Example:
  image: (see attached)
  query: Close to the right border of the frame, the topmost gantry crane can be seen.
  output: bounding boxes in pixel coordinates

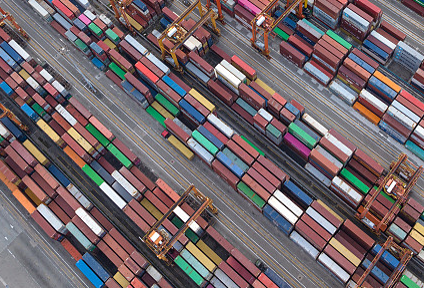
[350,152,424,244]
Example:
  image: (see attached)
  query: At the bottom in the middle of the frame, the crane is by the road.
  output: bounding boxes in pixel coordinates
[138,179,223,272]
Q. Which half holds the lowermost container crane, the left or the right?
right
